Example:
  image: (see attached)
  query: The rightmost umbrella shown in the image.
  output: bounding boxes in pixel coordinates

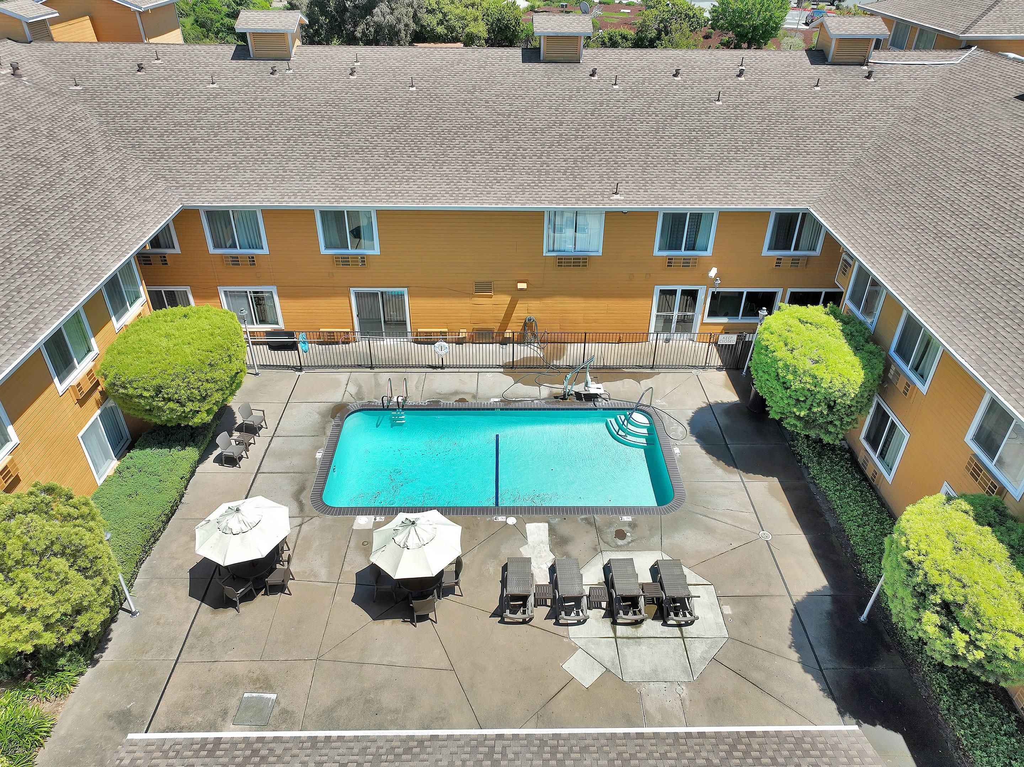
[368,510,462,581]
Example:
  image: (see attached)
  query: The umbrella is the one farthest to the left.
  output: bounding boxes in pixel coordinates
[195,496,291,568]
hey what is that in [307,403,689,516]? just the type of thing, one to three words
swimming pool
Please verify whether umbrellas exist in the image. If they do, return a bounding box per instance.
[195,496,291,568]
[368,510,462,581]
